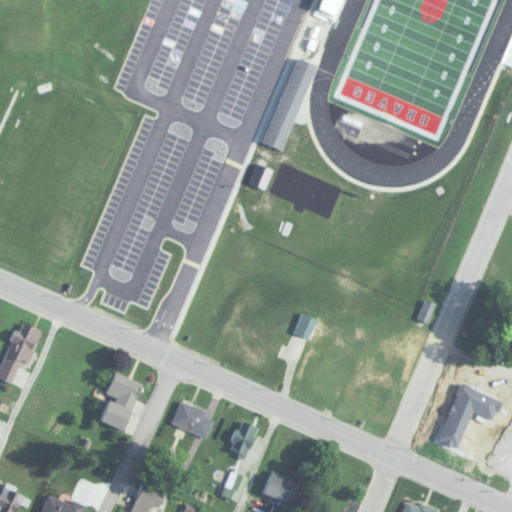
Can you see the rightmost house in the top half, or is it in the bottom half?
bottom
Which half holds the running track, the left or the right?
right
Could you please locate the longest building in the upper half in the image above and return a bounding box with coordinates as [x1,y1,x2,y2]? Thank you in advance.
[253,56,318,152]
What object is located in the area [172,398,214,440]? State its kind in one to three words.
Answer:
house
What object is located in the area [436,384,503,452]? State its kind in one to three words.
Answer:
house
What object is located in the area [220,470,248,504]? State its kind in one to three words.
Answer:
building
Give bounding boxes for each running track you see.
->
[304,0,512,193]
